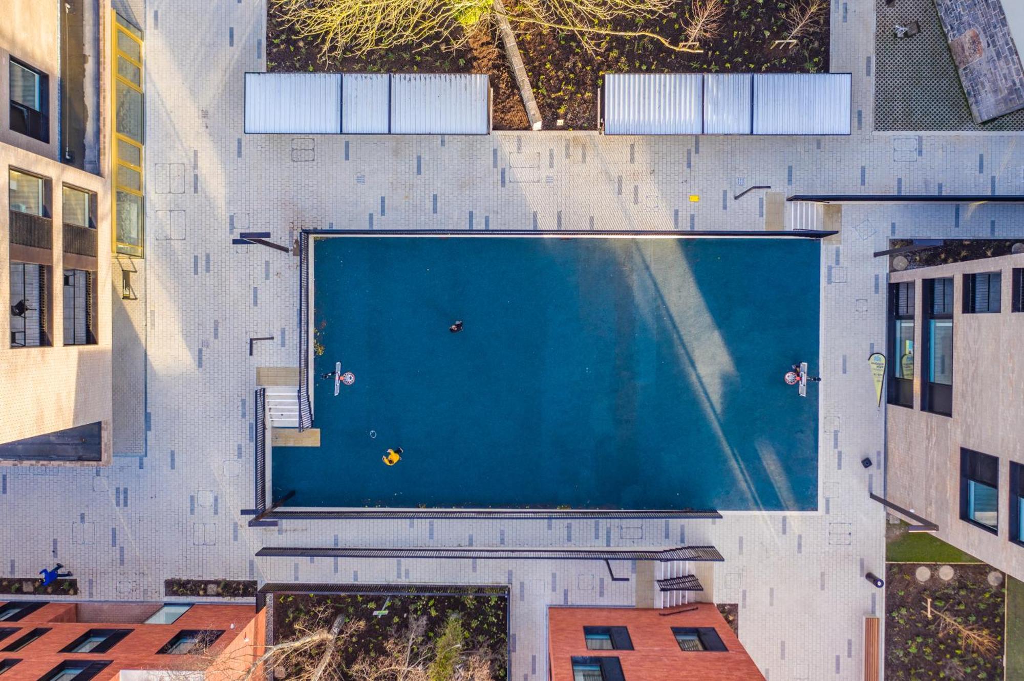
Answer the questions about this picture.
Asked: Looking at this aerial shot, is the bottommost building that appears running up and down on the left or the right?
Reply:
right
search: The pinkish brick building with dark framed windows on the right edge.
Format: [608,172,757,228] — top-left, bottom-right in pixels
[886,251,1024,582]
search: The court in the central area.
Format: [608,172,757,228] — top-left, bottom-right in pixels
[272,238,820,511]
